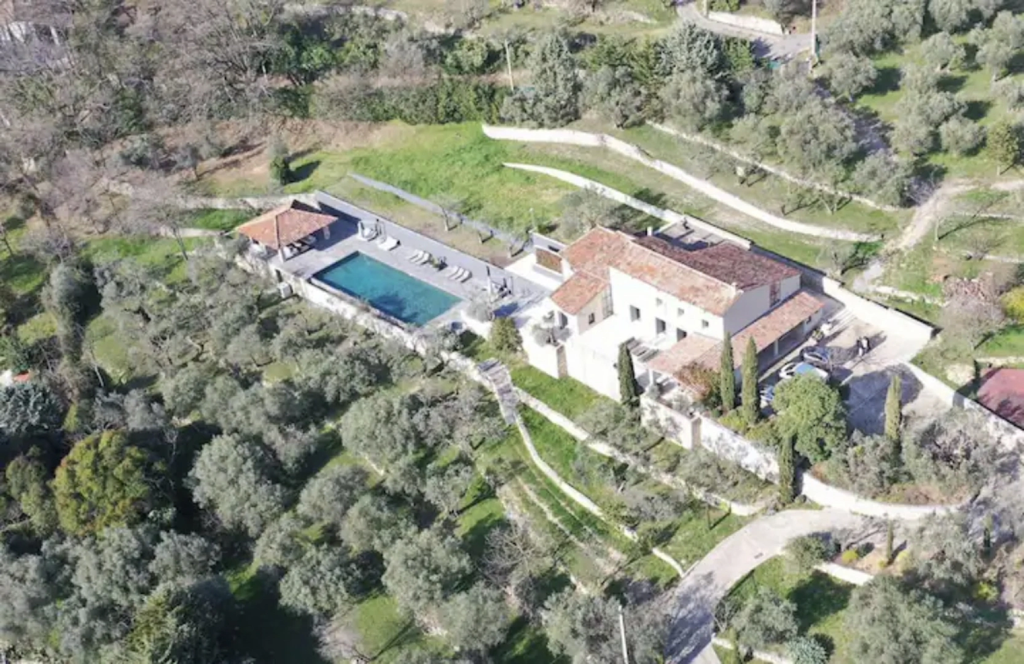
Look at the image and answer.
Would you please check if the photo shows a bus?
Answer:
No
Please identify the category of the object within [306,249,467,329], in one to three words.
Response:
swimming pool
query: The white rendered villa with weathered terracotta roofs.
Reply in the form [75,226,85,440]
[551,224,824,410]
